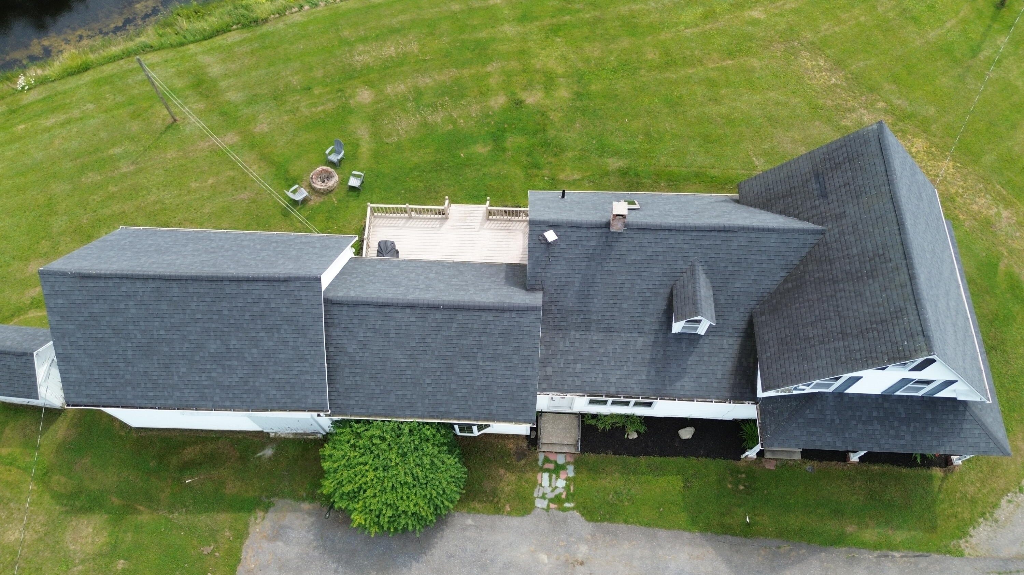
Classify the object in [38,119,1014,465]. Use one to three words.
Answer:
house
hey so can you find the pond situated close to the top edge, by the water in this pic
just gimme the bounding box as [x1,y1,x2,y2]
[0,0,209,77]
